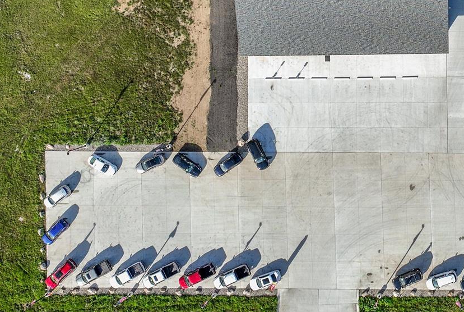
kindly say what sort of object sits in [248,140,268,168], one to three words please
car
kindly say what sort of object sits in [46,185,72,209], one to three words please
car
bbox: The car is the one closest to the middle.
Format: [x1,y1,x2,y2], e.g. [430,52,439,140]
[215,153,242,176]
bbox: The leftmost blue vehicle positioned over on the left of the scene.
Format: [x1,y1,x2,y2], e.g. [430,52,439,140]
[44,218,71,244]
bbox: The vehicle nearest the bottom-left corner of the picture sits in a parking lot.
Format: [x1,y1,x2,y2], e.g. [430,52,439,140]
[47,259,77,287]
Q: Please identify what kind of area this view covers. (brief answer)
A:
parking lot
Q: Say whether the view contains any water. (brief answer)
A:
No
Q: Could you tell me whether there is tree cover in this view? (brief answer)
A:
No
